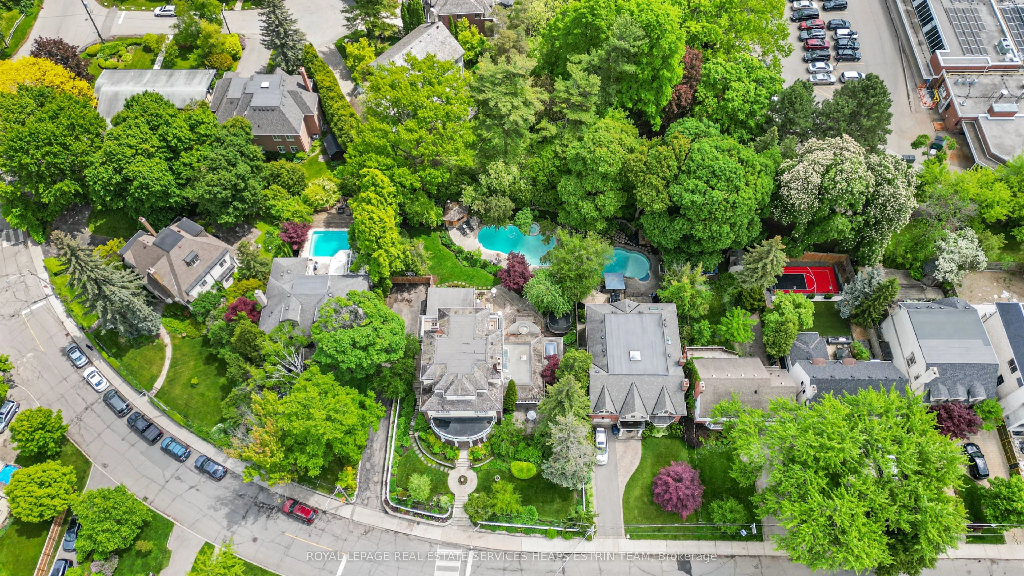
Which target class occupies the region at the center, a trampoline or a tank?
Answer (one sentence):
You can see a trampoline at the center.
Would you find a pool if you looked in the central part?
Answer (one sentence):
Yes, a pool is visible in the central part.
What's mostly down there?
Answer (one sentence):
For the most part, this view shows trees.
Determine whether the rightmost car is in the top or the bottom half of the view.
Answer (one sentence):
You can find the rightmost car in the bottom half.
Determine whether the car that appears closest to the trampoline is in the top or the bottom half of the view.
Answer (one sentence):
The bottom half of the photo is where the car that appears closest to the trampoline is.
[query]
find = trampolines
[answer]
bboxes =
[548,303,574,332]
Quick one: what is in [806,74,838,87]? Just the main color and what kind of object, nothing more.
gray vehicle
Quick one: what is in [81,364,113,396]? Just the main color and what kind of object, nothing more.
white car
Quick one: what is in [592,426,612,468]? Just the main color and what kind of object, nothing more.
white car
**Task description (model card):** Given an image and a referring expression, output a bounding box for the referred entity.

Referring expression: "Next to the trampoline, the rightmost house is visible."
[585,299,692,439]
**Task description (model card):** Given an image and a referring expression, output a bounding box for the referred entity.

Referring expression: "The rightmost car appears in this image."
[961,441,992,481]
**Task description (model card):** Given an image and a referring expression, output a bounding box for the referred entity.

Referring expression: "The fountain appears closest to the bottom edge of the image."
[455,472,471,488]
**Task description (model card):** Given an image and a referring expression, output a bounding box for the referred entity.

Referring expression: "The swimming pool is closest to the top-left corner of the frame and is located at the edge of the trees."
[306,227,365,260]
